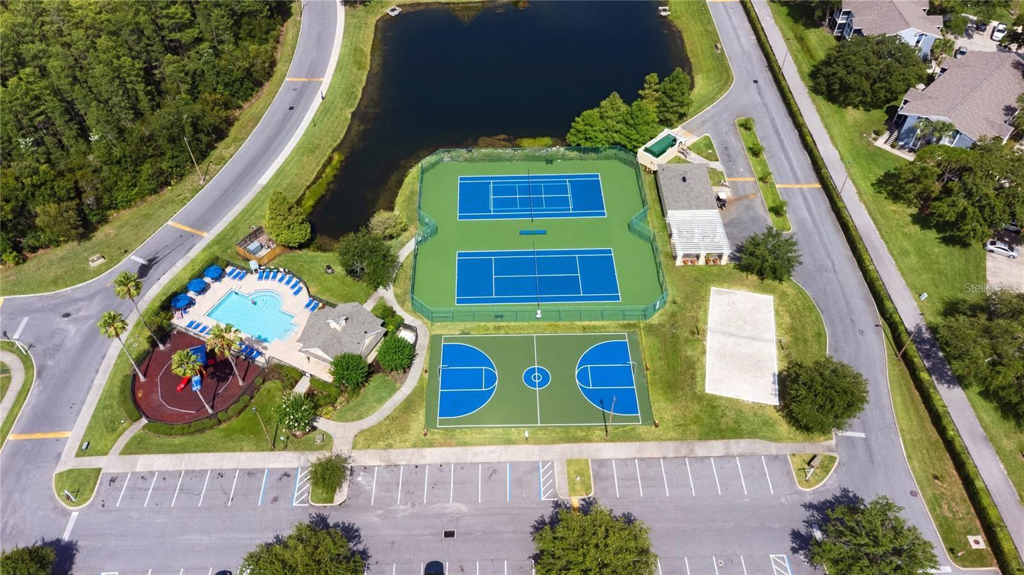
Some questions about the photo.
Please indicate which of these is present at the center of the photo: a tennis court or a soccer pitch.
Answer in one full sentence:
What appears at the center of the photo is a tennis court.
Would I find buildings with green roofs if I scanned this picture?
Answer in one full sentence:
No, no building with a green roof is visible in the scene.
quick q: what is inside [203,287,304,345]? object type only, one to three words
swimming pool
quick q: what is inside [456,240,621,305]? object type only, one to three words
tennis court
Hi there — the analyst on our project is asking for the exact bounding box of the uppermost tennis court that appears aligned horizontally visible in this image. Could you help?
[458,168,606,222]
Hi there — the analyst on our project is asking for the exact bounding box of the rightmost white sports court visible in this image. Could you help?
[706,287,778,403]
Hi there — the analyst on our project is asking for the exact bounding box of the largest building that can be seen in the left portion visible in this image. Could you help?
[296,302,387,369]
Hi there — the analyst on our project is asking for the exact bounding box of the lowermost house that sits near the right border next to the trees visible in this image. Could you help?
[874,49,1024,162]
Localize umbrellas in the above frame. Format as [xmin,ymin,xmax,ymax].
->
[169,293,195,314]
[202,265,226,285]
[185,278,210,298]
